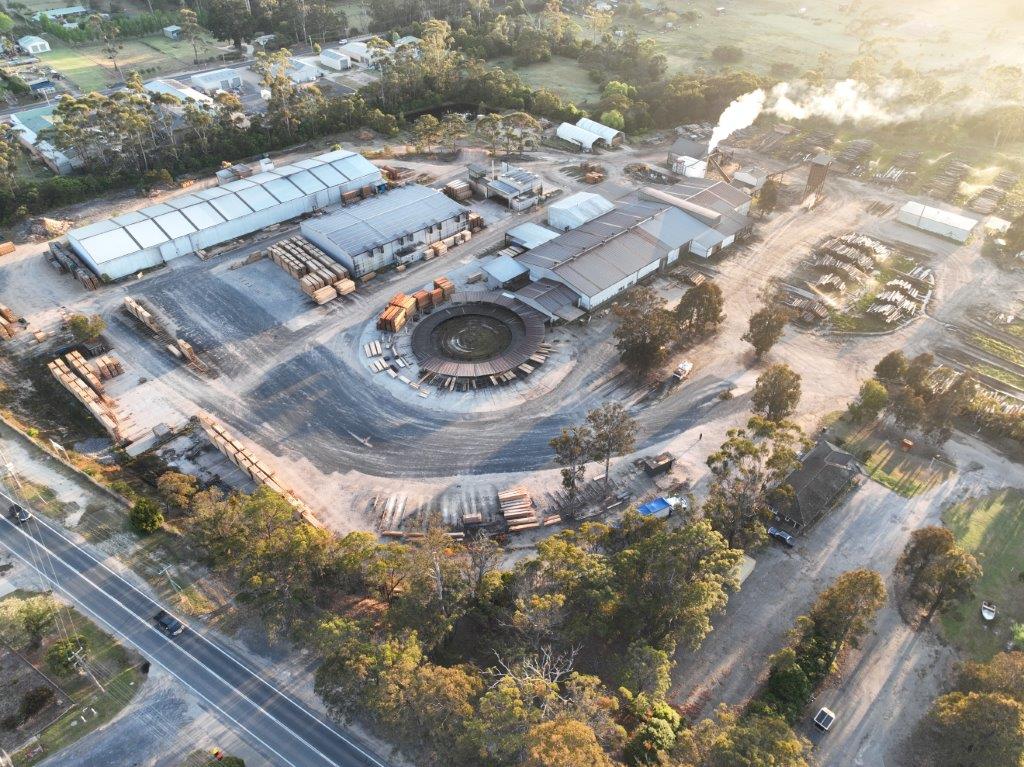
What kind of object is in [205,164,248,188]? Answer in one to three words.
shed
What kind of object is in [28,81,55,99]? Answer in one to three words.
house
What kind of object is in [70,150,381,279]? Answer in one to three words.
shed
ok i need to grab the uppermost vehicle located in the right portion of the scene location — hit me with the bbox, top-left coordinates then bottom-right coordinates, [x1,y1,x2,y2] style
[673,360,693,377]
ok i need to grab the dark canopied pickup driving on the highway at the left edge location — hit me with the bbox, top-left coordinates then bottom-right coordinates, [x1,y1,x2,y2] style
[3,500,32,523]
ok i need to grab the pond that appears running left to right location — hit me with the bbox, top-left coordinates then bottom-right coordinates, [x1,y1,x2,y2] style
[408,101,545,124]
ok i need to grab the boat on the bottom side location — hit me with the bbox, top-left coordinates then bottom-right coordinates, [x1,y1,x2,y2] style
[980,597,995,619]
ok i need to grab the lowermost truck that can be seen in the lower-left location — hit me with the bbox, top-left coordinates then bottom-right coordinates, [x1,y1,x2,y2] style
[150,609,184,637]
